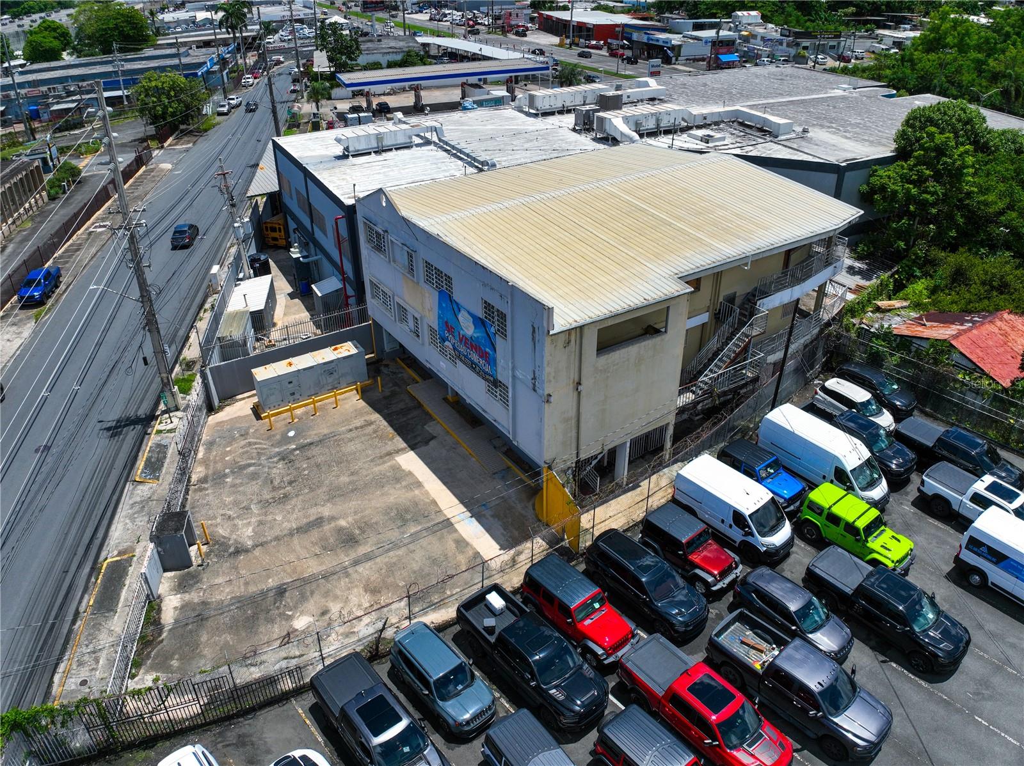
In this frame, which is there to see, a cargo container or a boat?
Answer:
cargo container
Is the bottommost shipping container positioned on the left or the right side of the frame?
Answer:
left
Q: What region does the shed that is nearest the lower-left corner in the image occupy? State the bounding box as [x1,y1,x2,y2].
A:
[148,508,197,570]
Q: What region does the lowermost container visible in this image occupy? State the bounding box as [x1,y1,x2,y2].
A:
[249,339,370,415]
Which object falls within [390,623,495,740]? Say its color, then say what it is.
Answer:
blue car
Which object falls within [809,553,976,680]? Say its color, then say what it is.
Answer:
black truck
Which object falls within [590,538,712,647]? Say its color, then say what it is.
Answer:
black car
